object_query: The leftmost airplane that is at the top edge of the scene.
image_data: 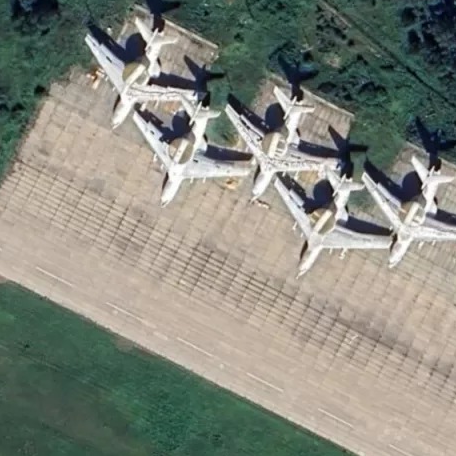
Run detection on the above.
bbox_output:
[85,18,203,133]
